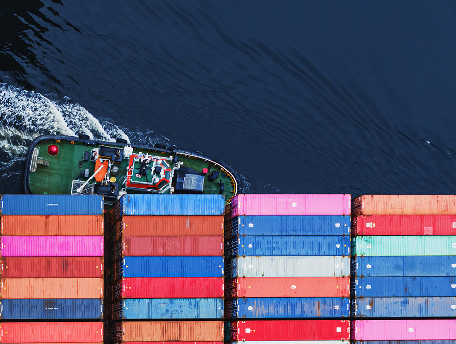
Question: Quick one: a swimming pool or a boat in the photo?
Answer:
boat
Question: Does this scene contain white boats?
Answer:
No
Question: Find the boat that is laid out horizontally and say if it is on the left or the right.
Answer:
left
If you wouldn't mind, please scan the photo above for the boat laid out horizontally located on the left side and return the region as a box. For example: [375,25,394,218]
[21,132,242,205]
